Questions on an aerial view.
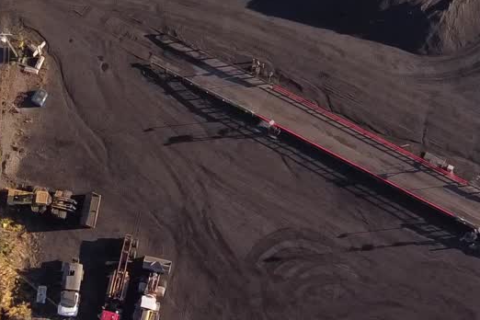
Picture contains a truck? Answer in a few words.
Yes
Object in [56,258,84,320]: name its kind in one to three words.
truck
